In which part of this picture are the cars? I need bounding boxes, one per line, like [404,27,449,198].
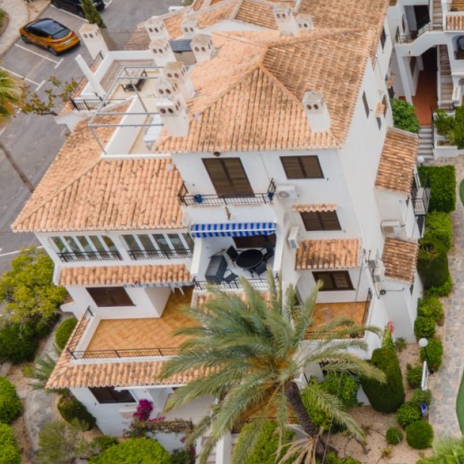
[24,24,71,57]
[51,0,91,19]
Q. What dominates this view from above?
buildings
